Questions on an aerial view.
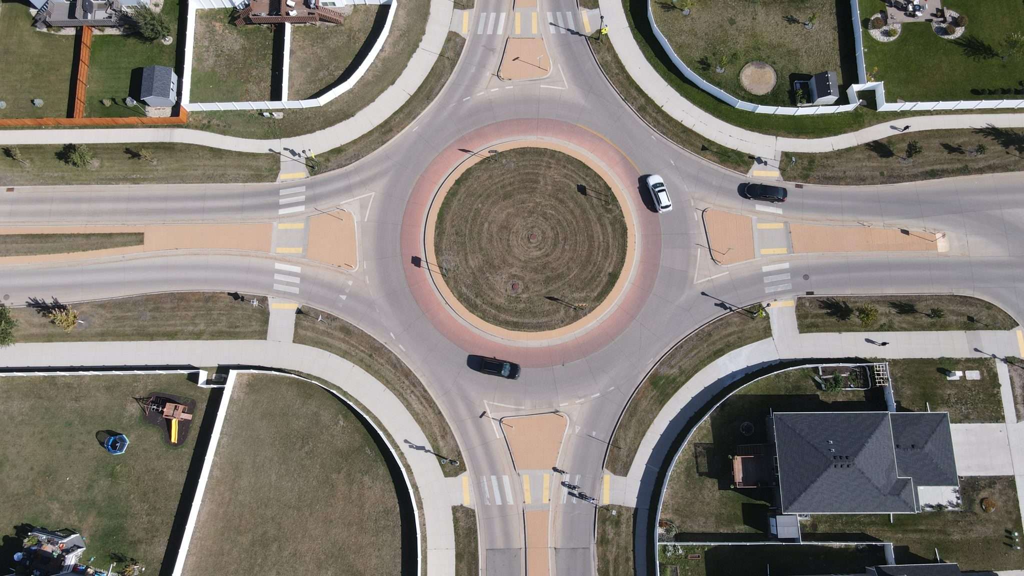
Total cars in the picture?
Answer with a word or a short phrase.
3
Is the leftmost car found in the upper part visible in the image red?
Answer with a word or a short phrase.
No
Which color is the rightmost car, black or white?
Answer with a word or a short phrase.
black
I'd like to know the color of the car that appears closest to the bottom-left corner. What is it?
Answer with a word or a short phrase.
black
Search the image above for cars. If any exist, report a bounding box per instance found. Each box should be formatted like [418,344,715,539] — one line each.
[649,173,676,212]
[479,356,522,380]
[746,180,791,204]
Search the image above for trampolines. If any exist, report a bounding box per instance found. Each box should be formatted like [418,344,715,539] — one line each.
[102,435,127,454]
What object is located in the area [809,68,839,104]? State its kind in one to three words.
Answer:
shed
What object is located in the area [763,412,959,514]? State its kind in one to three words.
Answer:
house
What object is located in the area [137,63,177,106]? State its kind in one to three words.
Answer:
shed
